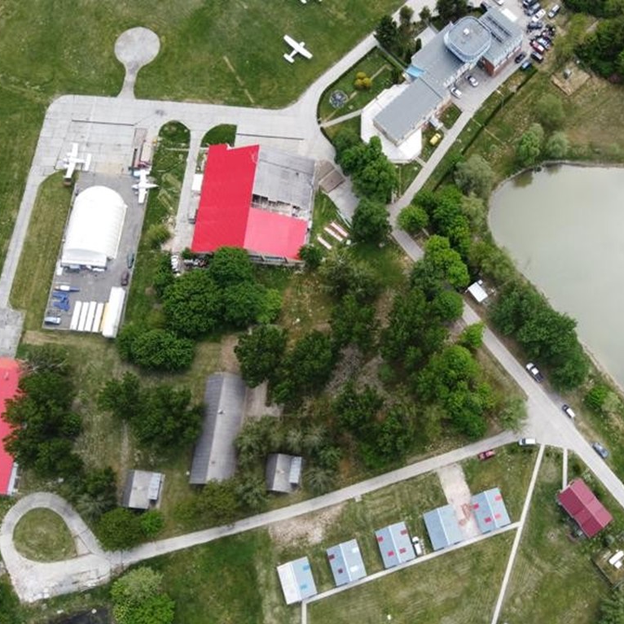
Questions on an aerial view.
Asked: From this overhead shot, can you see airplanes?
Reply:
Yes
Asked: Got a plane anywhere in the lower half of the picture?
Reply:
No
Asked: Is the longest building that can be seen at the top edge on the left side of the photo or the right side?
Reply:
right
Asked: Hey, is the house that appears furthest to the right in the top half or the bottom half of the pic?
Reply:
bottom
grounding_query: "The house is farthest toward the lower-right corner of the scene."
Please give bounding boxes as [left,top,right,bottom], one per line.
[557,479,613,537]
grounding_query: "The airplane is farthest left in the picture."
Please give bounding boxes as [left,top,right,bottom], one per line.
[64,144,91,180]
